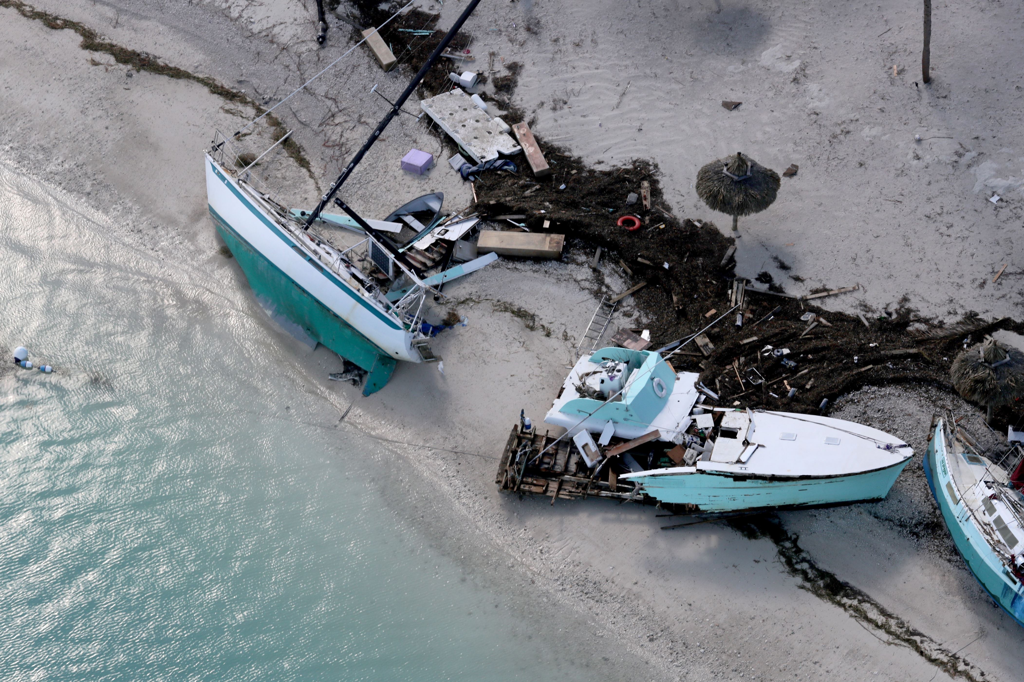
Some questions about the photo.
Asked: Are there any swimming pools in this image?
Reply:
No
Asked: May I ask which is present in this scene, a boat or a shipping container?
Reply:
boat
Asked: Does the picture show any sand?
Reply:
Yes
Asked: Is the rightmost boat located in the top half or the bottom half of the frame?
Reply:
bottom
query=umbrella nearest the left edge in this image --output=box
[694,146,785,238]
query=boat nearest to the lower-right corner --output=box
[931,412,1024,643]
